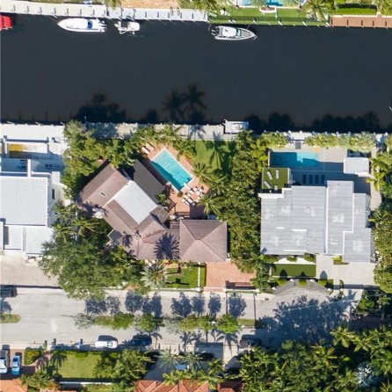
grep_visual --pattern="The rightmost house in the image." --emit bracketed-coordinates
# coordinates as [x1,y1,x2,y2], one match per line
[257,156,380,264]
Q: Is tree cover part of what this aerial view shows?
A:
Yes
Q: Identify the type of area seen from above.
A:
residential area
